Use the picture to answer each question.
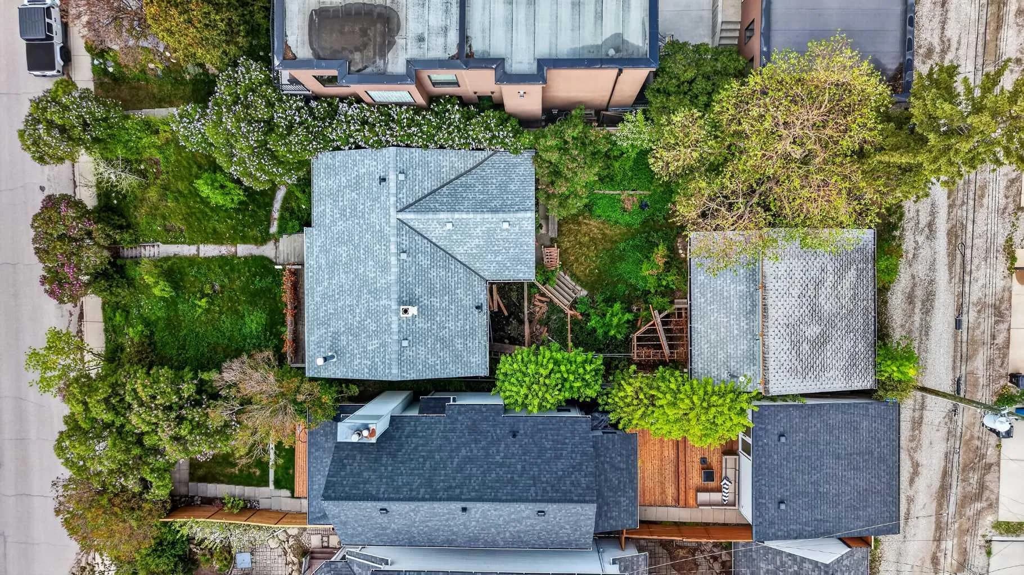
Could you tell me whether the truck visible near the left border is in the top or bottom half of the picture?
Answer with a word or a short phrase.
top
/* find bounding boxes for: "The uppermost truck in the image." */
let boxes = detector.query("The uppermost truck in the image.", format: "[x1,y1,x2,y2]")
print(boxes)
[16,0,73,81]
